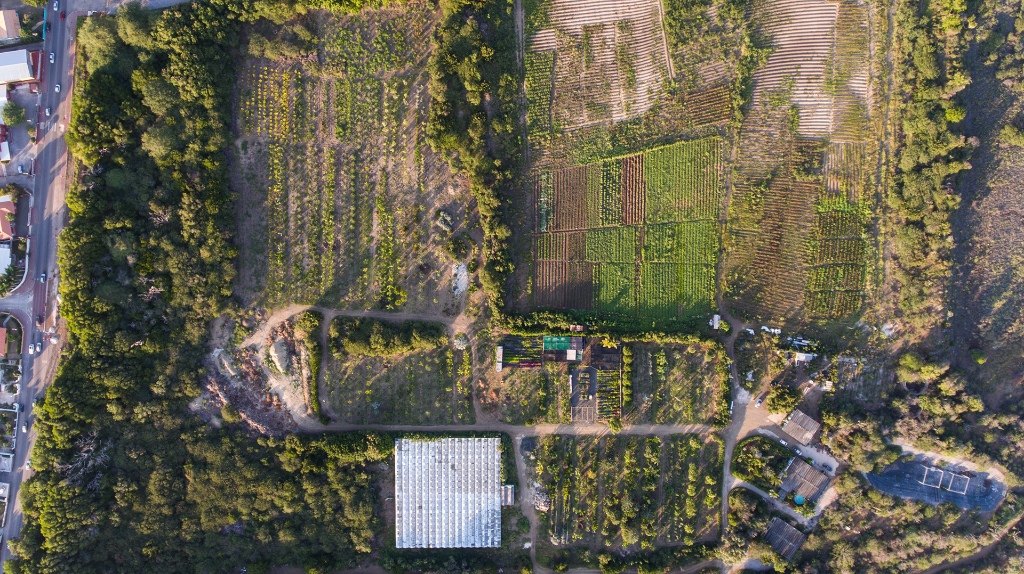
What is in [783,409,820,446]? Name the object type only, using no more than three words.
barn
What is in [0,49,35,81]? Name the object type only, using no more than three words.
building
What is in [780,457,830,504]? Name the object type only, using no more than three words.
house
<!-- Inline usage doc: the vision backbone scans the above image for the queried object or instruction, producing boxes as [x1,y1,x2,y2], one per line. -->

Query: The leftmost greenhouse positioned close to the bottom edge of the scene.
[395,436,501,548]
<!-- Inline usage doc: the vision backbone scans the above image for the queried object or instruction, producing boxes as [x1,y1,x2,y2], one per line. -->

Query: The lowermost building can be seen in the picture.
[763,517,806,560]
